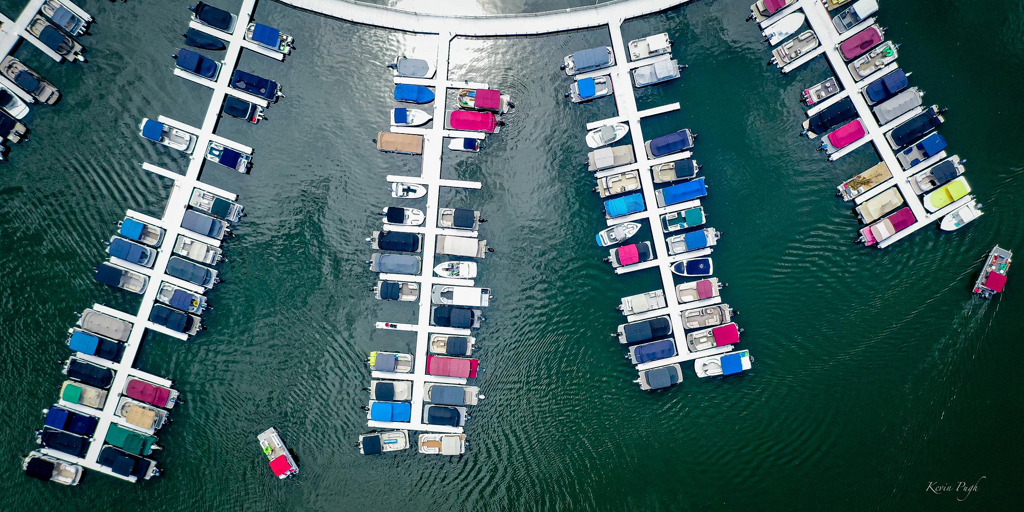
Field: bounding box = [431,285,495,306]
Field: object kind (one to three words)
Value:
boat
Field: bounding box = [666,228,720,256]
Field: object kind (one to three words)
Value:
boat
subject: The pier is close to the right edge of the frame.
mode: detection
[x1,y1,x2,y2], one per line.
[757,0,974,250]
